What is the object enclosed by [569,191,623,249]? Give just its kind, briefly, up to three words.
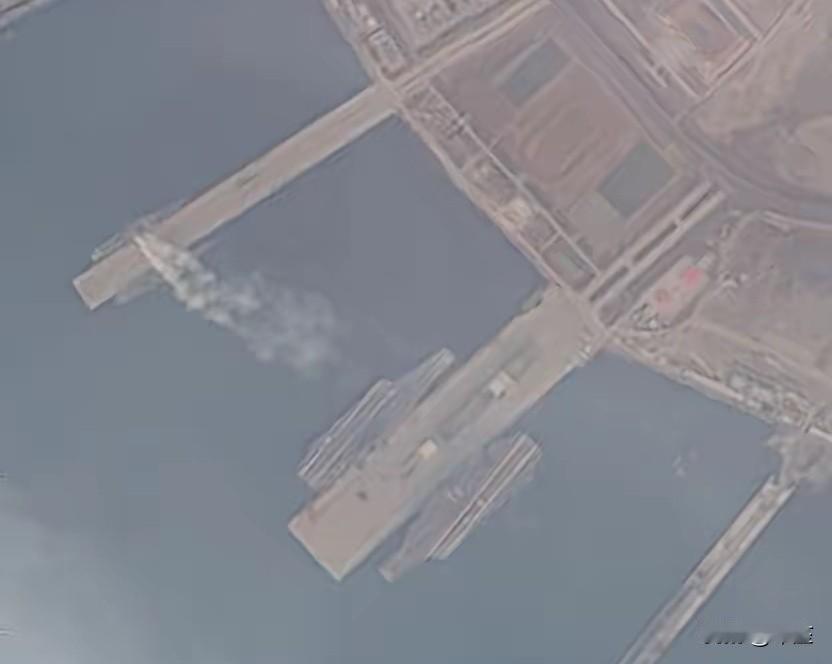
sports field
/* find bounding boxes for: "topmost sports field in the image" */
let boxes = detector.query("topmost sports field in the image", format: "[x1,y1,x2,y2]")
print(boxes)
[500,41,572,105]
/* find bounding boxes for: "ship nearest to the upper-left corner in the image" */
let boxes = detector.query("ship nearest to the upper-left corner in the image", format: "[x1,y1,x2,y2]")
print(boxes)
[89,212,162,264]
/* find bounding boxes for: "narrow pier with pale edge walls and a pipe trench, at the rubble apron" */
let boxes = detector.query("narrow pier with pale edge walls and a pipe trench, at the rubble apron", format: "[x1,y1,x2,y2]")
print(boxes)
[617,475,798,664]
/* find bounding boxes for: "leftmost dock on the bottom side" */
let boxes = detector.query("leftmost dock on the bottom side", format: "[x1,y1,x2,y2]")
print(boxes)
[288,283,600,582]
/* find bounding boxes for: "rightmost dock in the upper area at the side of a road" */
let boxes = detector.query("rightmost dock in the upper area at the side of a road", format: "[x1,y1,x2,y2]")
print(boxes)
[72,77,401,310]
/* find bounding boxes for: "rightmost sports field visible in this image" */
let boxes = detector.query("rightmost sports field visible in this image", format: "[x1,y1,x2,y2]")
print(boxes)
[599,143,677,215]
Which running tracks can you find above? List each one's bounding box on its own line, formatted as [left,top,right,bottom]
[519,91,612,182]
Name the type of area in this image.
port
